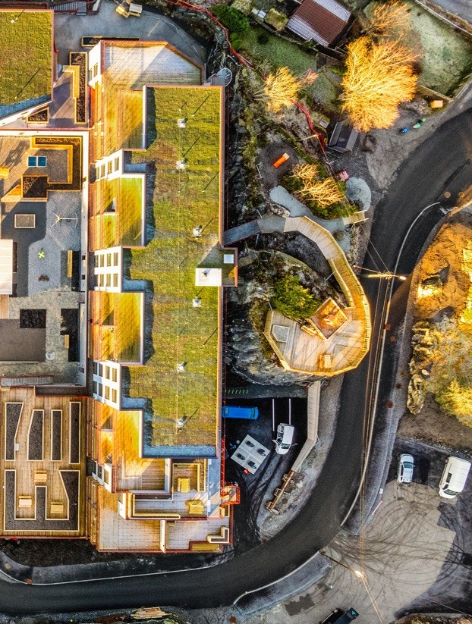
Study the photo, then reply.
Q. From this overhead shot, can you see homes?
Yes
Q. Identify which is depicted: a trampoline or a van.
van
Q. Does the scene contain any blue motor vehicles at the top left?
No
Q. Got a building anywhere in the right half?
Yes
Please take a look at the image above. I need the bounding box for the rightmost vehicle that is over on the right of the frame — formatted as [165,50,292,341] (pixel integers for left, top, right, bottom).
[432,453,472,501]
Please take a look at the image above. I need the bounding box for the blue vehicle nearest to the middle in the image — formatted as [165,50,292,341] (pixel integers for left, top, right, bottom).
[221,403,257,420]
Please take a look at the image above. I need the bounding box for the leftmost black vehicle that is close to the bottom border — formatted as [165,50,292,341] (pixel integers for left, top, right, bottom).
[315,603,358,624]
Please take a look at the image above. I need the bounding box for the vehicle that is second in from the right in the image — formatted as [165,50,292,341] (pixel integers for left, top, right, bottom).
[395,453,415,484]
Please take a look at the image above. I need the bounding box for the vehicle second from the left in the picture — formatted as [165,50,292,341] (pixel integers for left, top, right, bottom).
[269,422,300,456]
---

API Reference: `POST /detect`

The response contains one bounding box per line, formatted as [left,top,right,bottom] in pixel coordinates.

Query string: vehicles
[221,403,257,420]
[432,453,472,501]
[269,422,300,456]
[315,603,358,624]
[395,453,415,484]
